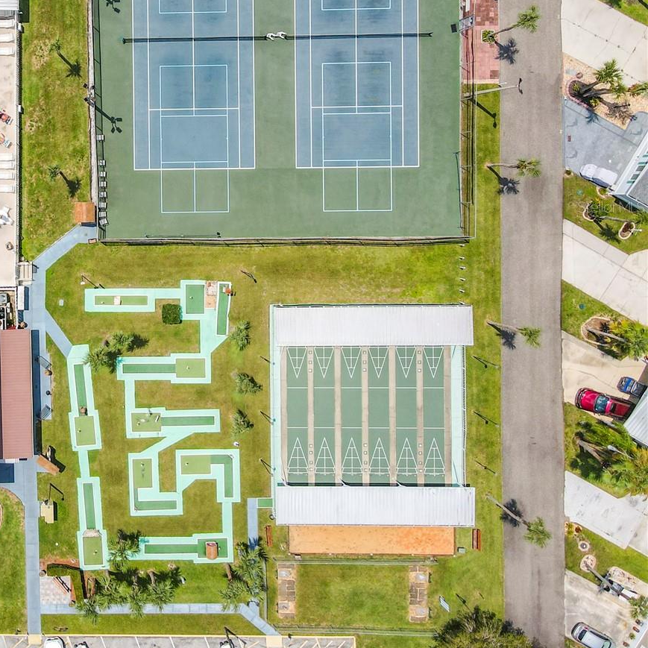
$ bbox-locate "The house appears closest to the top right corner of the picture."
[612,125,648,211]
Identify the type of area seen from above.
sports ground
